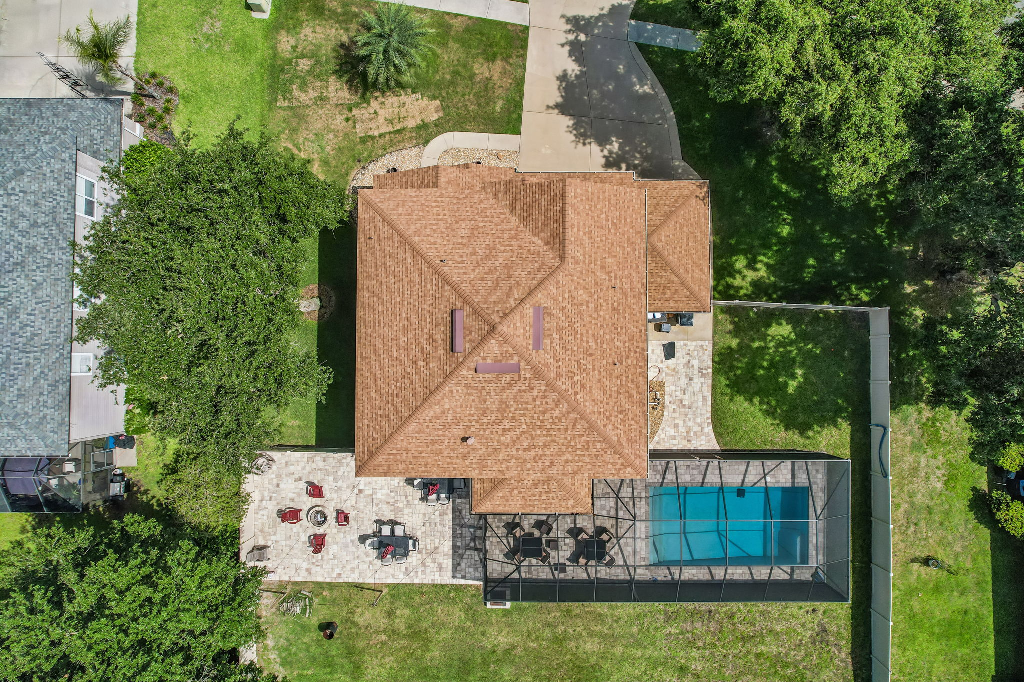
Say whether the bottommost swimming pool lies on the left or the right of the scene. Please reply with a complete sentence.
The bottommost swimming pool is on the right side of the image.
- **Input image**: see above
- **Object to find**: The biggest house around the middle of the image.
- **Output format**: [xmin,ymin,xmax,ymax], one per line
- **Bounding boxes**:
[352,163,715,518]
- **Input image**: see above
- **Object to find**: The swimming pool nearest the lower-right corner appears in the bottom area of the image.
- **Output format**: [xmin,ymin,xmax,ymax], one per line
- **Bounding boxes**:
[646,483,815,570]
